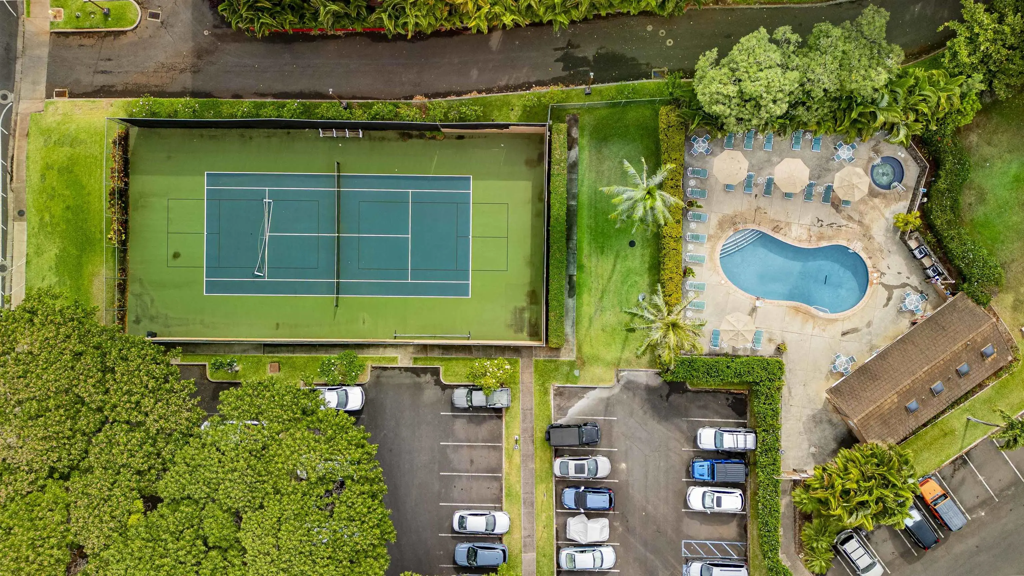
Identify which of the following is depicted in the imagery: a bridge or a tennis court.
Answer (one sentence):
It is a tennis court that can be seen here.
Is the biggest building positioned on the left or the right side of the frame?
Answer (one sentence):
The biggest building sits on the right side.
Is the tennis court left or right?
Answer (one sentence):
The tennis court sits on the left side.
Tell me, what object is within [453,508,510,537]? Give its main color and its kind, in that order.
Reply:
white car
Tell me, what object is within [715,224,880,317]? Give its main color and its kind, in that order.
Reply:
blue swimming pool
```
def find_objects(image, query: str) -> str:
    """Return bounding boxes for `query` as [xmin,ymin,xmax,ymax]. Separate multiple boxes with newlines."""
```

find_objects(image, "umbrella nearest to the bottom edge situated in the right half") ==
[719,312,755,347]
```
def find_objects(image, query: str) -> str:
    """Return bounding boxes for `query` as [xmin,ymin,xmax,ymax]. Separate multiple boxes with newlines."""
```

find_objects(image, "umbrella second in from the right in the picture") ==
[774,158,809,193]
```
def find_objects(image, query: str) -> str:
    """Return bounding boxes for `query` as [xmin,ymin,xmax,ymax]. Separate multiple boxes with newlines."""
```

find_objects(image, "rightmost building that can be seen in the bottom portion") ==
[823,291,1012,451]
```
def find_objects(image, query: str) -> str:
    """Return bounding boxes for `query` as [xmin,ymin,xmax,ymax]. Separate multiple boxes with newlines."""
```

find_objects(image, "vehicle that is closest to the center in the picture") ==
[452,386,512,410]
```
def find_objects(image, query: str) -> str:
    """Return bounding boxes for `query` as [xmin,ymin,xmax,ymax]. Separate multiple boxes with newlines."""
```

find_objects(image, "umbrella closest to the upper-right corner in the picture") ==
[833,167,868,201]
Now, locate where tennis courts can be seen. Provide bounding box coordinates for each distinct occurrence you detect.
[127,128,546,343]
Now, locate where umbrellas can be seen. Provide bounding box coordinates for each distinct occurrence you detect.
[774,158,809,193]
[719,312,755,347]
[713,149,748,184]
[833,167,868,201]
